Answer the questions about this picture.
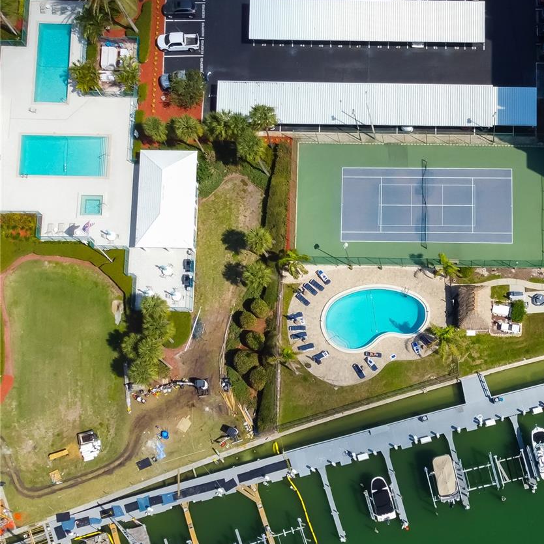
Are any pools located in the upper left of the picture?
Yes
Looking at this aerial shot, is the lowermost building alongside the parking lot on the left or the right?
left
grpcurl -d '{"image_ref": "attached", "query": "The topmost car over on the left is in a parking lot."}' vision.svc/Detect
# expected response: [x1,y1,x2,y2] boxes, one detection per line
[162,0,197,17]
